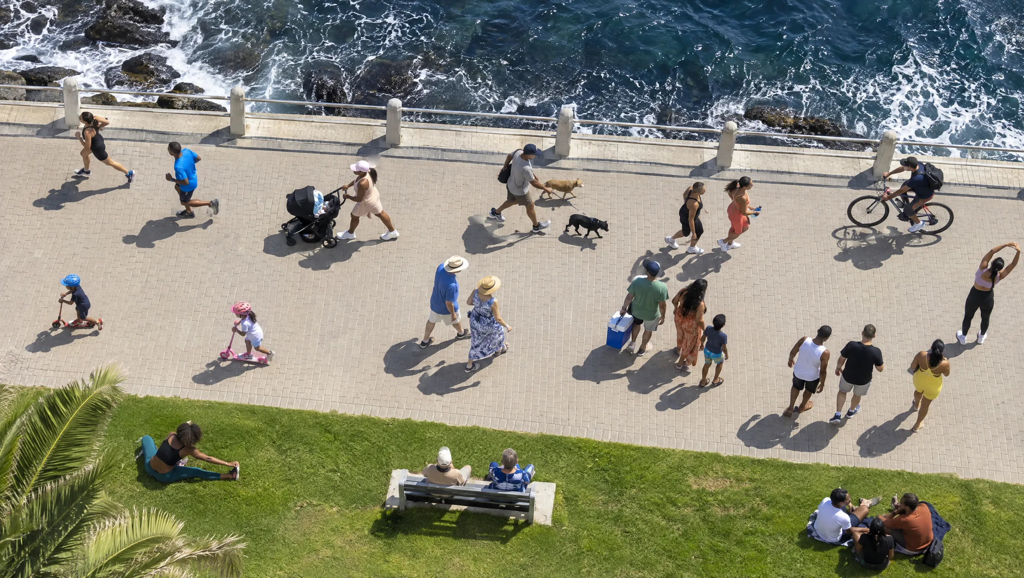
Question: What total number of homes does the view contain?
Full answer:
No homes are visible.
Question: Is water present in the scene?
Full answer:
Yes, water can be seen from above here.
